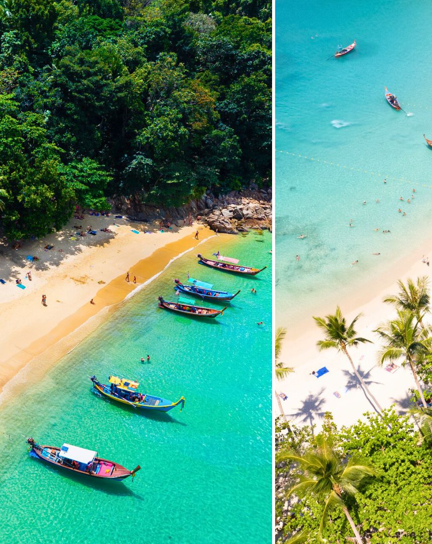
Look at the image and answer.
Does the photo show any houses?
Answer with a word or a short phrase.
No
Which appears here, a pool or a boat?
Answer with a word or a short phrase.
boat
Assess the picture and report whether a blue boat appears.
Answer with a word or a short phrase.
Yes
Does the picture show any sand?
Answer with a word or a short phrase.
Yes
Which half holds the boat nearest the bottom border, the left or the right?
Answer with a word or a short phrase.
left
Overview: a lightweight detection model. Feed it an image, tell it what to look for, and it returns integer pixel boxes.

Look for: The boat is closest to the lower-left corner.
[24,437,143,481]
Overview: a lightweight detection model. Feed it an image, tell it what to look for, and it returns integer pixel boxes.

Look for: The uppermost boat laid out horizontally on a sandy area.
[191,250,270,275]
